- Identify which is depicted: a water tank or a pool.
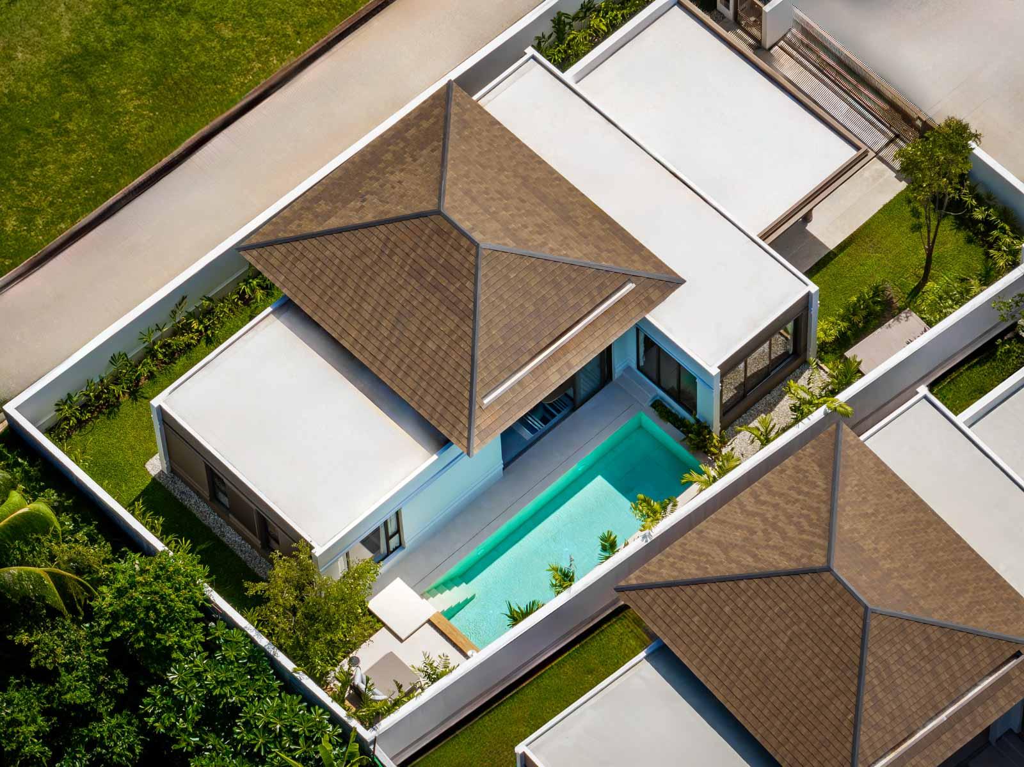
pool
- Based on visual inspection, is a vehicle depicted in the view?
No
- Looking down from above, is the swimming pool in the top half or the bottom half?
bottom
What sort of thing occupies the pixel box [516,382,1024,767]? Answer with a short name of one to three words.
house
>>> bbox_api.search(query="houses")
[516,382,1024,767]
[150,46,818,617]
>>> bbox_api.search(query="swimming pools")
[421,412,706,650]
